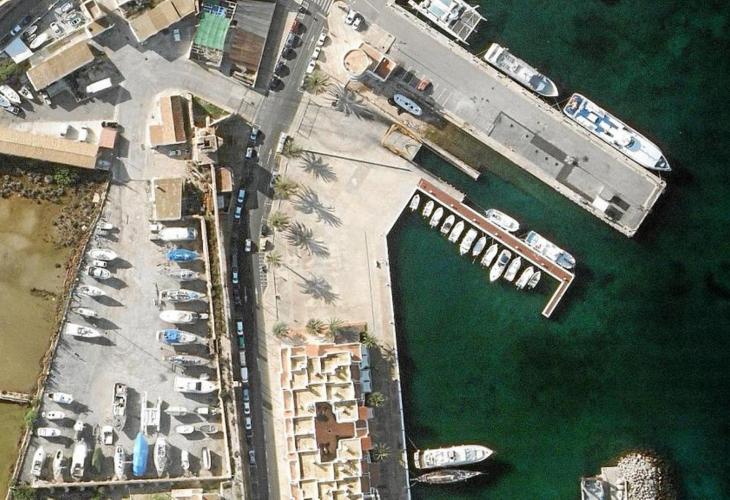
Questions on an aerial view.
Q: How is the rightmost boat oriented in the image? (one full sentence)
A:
In this picture, the rightmost boat lies diagonally.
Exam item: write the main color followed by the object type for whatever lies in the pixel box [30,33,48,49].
white boat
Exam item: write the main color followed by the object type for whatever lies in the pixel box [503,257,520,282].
white boat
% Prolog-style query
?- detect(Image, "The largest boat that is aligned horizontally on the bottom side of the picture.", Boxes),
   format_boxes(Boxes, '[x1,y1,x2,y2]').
[415,444,494,471]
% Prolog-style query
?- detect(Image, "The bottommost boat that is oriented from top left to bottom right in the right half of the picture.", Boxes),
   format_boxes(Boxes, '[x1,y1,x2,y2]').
[526,229,576,268]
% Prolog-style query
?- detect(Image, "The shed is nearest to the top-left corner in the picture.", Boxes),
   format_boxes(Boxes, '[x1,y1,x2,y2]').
[6,36,34,64]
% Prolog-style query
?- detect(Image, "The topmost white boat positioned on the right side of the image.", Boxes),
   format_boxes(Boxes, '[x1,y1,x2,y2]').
[409,0,484,42]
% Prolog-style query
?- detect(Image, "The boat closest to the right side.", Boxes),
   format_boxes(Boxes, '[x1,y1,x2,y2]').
[563,91,673,170]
